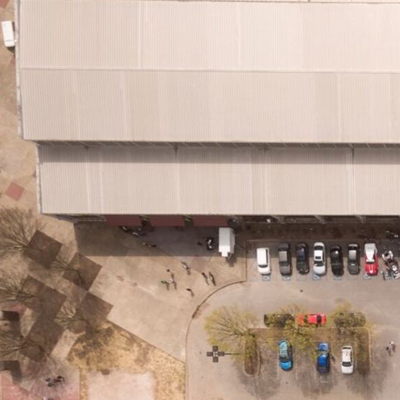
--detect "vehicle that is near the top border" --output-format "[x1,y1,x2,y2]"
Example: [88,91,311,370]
[1,17,20,54]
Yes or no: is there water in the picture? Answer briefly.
No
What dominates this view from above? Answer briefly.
buildings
